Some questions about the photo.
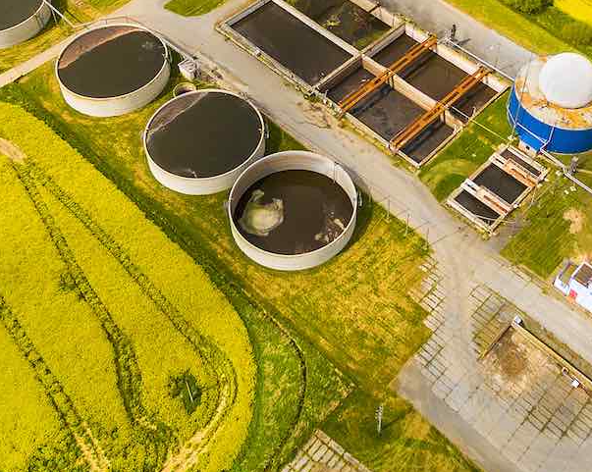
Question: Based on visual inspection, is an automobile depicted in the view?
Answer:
No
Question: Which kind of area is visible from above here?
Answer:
industrial area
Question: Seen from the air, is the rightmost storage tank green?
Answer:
No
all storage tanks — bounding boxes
[0,0,52,51]
[55,23,172,116]
[228,151,362,274]
[509,54,592,157]
[144,89,270,197]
